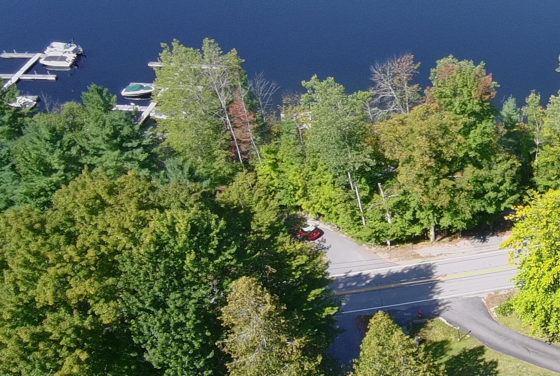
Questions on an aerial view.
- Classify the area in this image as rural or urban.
rural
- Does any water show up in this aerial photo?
Yes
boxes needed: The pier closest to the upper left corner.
[0,45,59,85]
